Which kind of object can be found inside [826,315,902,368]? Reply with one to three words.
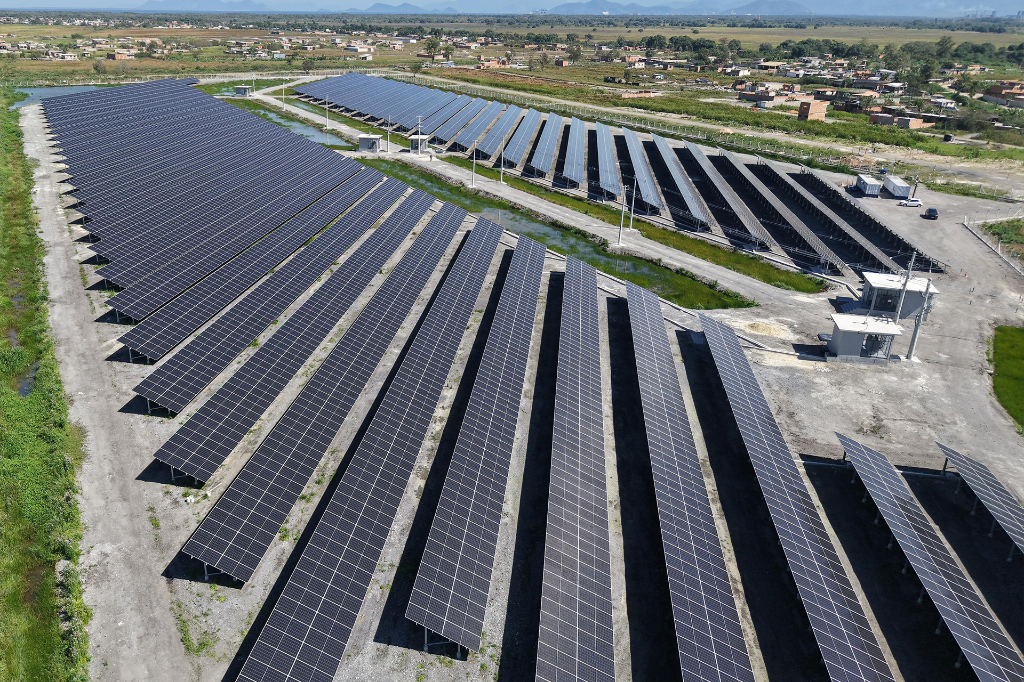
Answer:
building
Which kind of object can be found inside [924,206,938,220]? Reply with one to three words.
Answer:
car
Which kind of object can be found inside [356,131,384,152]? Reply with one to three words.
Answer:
building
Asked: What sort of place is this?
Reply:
solar farm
